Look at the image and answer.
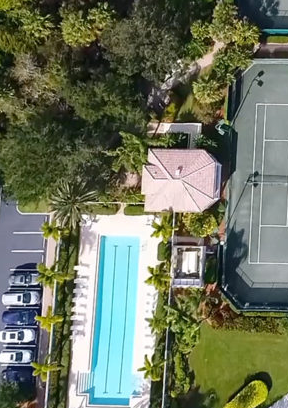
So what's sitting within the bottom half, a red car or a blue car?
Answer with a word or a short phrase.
blue car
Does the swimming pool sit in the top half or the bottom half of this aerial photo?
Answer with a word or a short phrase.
bottom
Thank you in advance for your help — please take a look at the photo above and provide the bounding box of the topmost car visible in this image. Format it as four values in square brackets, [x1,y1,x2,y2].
[6,273,41,289]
